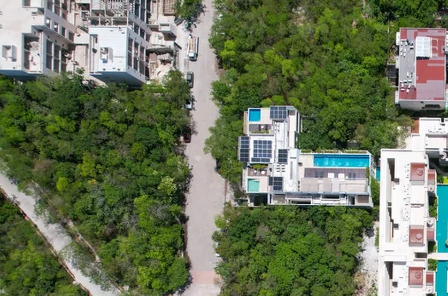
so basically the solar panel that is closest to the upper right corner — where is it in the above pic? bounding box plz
[416,37,430,57]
